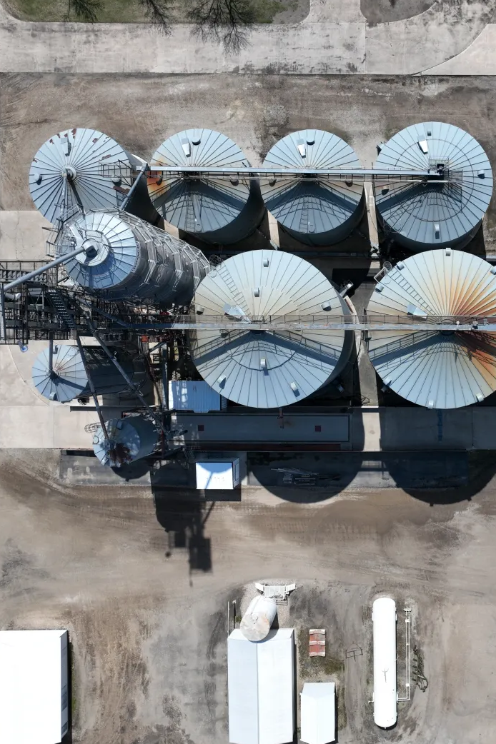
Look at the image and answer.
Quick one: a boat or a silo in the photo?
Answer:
silo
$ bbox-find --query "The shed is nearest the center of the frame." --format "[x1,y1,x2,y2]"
[168,380,227,420]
